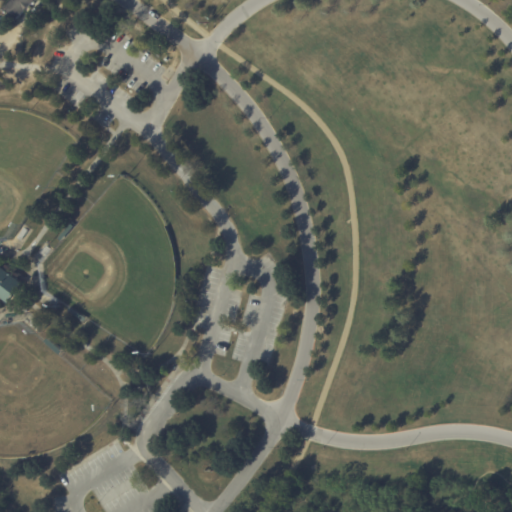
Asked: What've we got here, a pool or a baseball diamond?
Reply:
baseball diamond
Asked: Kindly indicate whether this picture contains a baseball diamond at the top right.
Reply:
No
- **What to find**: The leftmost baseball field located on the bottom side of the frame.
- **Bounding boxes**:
[0,322,112,458]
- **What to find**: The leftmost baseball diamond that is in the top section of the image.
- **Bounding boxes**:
[0,109,76,245]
